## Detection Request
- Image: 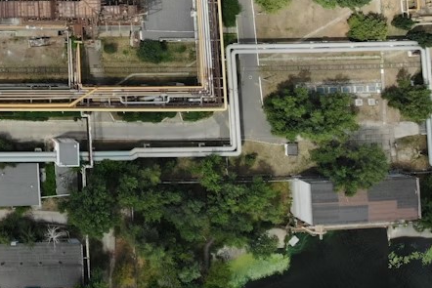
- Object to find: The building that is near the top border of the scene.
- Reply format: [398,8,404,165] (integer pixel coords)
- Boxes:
[137,0,195,42]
